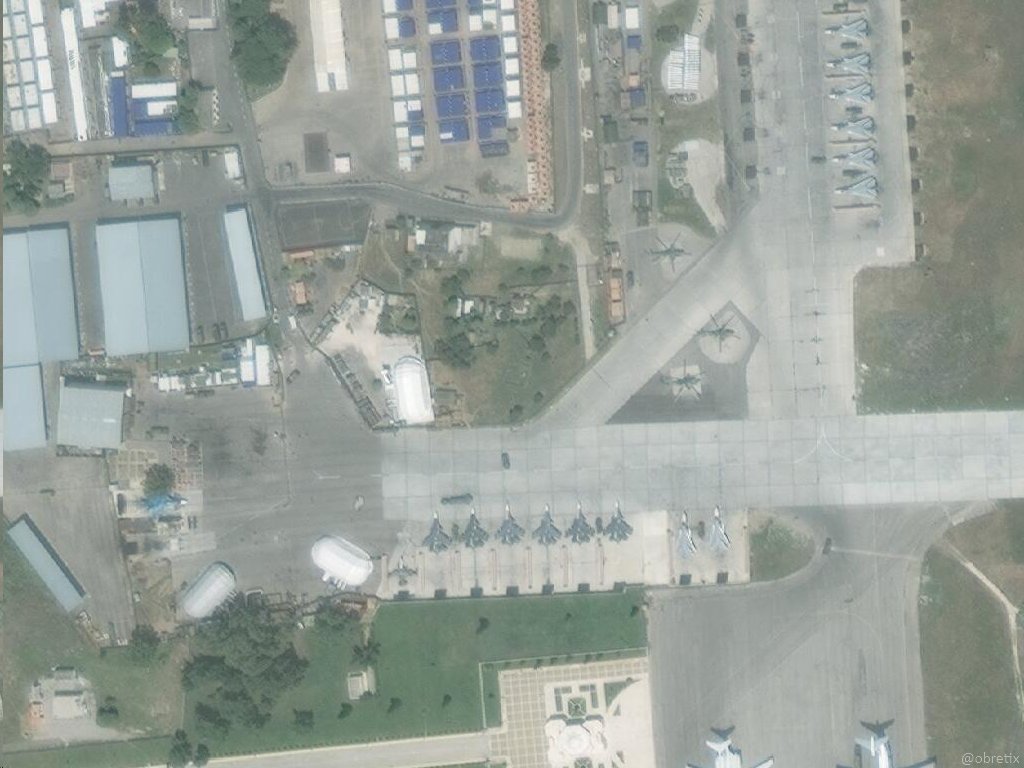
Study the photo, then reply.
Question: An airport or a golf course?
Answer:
airport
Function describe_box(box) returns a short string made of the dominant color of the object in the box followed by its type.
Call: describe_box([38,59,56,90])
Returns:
white tent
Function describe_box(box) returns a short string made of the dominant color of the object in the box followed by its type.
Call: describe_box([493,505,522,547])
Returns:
gray airplane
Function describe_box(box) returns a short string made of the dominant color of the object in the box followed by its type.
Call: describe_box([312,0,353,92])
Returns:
white tent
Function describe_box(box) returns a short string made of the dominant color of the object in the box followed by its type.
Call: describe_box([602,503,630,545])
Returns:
gray airplane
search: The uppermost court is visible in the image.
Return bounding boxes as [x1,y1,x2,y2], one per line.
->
[304,132,329,173]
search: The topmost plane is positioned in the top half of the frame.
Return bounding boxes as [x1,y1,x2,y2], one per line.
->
[823,20,866,42]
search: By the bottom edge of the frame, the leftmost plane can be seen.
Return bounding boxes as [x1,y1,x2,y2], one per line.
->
[685,734,737,768]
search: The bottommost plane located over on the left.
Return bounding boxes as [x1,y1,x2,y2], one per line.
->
[388,558,416,588]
